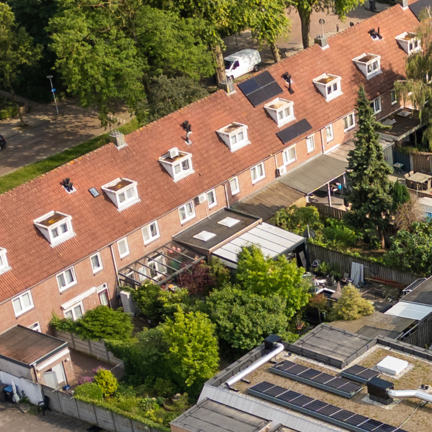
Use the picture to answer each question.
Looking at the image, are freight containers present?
No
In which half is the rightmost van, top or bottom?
top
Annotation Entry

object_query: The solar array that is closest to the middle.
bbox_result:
[277,118,313,141]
